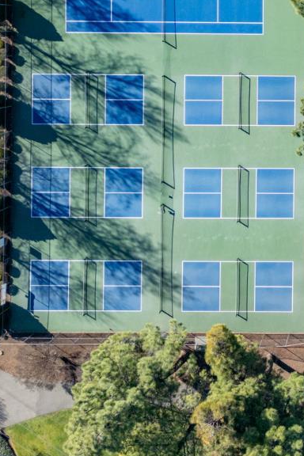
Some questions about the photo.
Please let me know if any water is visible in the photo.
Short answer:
No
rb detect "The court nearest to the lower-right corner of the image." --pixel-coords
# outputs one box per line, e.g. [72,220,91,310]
[182,261,294,312]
